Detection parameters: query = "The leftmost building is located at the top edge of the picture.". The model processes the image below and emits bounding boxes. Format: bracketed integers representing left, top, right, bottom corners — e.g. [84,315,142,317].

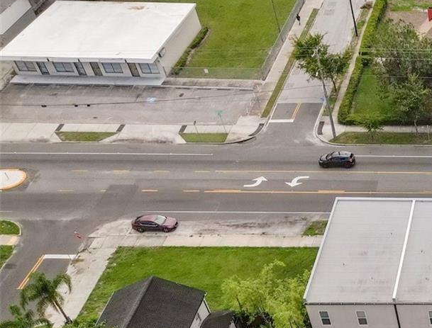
[0,0,41,55]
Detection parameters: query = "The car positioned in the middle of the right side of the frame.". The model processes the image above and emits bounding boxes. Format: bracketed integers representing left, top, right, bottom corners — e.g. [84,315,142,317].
[318,151,356,167]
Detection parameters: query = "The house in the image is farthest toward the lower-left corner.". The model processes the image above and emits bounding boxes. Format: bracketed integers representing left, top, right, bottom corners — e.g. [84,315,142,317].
[96,274,210,328]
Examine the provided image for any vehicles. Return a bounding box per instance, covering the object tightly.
[318,151,356,167]
[130,213,179,232]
